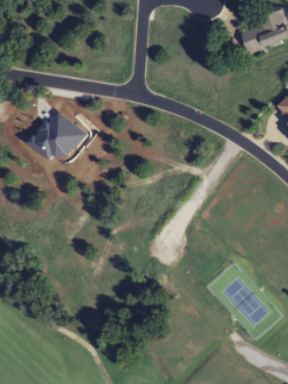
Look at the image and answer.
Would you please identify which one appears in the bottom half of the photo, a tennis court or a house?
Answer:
tennis court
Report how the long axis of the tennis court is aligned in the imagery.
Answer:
diagonally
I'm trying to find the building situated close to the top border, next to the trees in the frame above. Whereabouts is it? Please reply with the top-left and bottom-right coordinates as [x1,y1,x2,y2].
[242,8,288,53]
